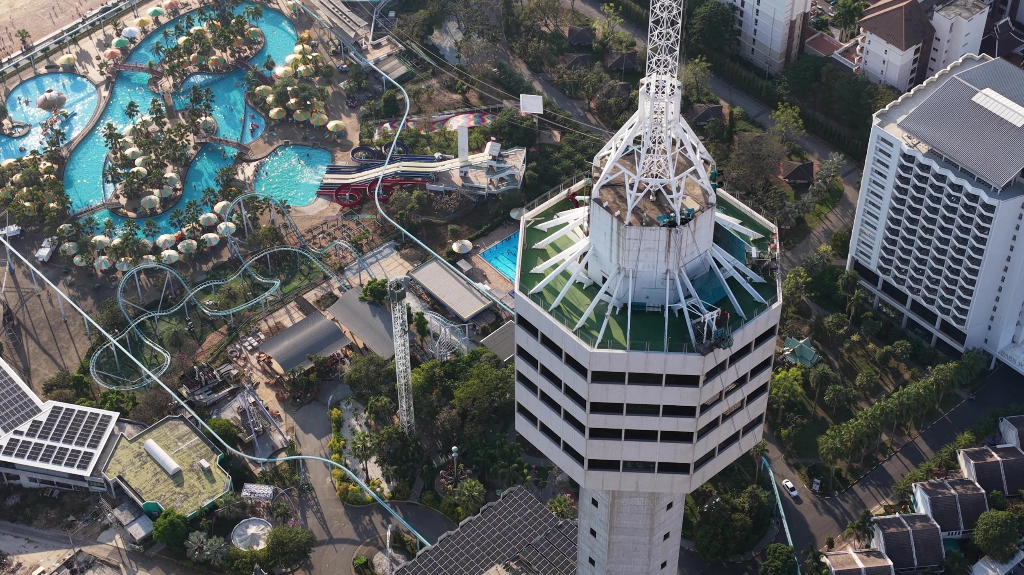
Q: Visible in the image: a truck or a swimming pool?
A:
swimming pool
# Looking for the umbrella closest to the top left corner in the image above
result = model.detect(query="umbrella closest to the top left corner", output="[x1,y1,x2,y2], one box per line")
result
[59,54,78,67]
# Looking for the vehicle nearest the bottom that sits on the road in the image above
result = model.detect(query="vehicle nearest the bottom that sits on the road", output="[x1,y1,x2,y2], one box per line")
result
[782,478,799,499]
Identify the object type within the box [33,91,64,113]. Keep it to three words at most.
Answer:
fountain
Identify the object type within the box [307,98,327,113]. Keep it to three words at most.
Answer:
umbrella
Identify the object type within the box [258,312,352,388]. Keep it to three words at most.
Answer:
shed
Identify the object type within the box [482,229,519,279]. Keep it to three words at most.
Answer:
swimming pool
